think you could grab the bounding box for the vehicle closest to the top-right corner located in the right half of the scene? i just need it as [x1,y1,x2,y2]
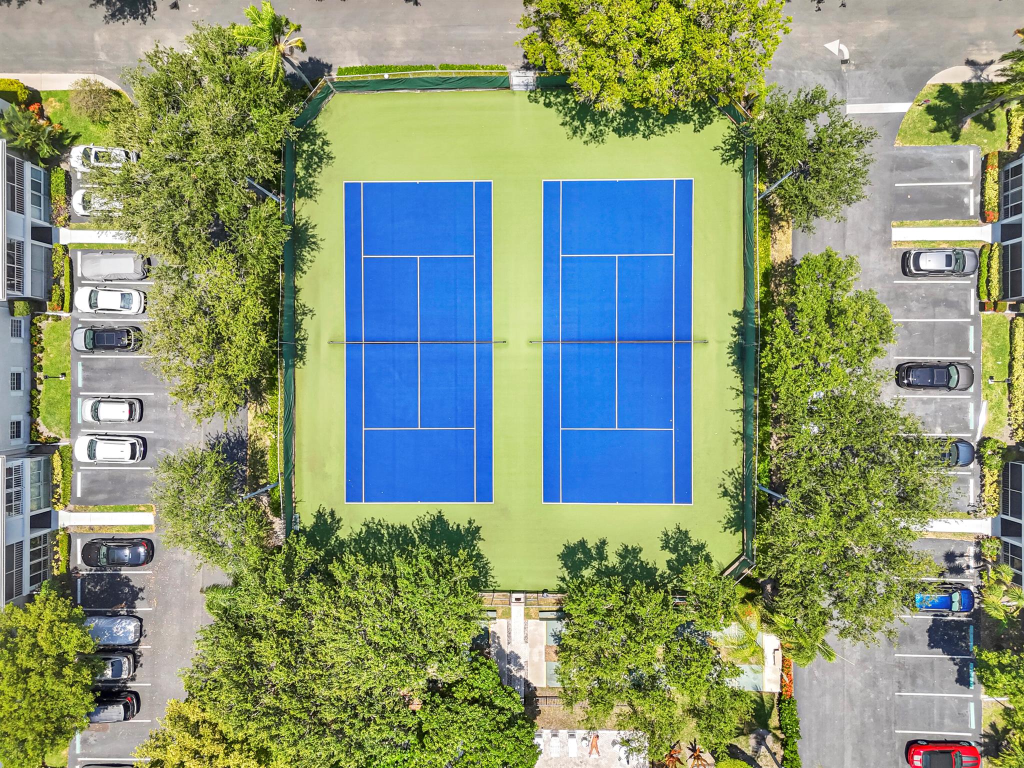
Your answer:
[904,246,975,278]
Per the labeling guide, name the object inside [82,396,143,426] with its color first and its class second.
white car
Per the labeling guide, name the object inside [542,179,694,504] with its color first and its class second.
blue tennis court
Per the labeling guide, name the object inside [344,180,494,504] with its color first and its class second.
blue tennis court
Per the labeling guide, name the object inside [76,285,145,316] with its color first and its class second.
white car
